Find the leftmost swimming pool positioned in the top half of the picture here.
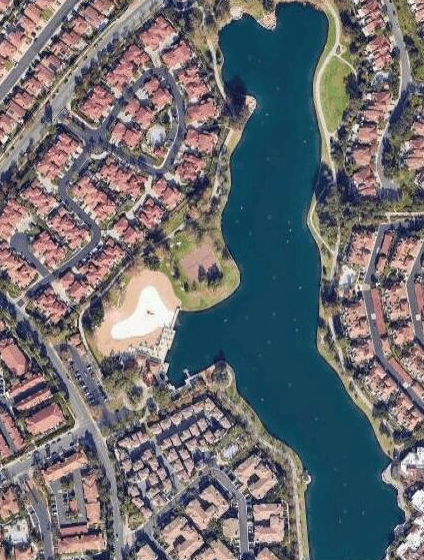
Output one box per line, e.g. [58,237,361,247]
[147,124,166,145]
